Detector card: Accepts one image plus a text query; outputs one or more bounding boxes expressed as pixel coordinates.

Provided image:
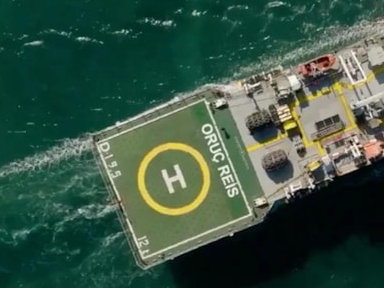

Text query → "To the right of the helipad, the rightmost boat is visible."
[332,145,384,177]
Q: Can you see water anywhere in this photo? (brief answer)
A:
Yes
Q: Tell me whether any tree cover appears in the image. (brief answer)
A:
No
